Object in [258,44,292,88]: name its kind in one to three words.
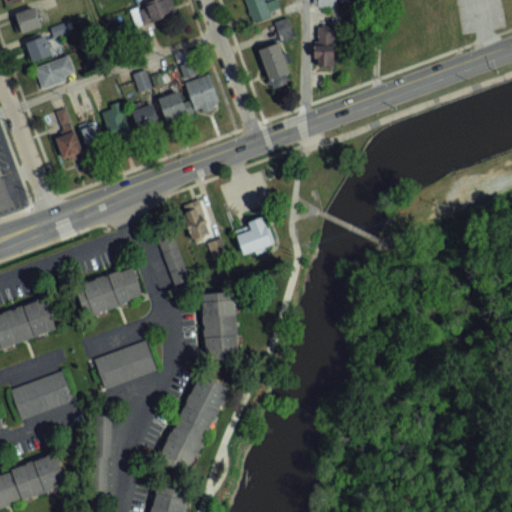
house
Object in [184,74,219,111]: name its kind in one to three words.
house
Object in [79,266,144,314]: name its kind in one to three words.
building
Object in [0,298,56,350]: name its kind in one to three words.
building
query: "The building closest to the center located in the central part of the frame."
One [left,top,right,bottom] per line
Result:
[236,218,275,254]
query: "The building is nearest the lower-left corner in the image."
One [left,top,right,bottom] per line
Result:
[0,455,61,506]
